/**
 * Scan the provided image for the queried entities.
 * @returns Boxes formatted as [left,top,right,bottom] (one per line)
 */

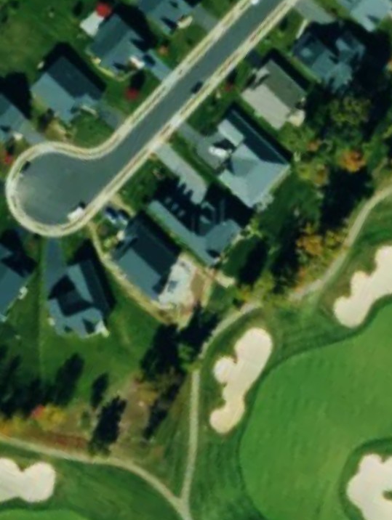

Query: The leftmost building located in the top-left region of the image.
[0,93,33,152]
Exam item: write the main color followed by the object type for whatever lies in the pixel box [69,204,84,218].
white vehicle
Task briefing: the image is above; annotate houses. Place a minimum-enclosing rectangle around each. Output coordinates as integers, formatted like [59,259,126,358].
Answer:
[135,0,200,36]
[44,258,115,342]
[86,14,151,77]
[144,187,249,271]
[241,61,310,133]
[340,0,392,30]
[211,111,298,212]
[0,93,33,152]
[109,218,186,295]
[289,19,366,91]
[0,245,39,322]
[30,56,102,129]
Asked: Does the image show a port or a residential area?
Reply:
residential area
